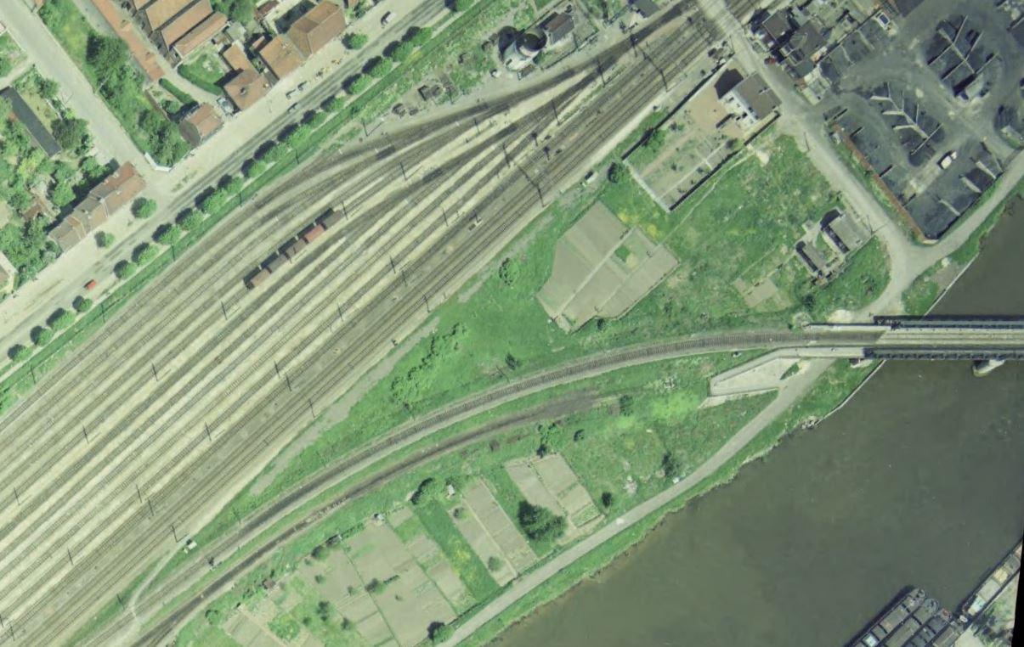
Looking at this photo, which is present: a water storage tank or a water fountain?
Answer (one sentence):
This aerial view contains a water storage tank.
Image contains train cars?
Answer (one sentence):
Yes, a train car can be made out from above.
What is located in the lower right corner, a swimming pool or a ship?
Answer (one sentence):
The one visible in the lower right corner is a ship.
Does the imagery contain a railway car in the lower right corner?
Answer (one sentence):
No, there is no railway car in the lower right corner.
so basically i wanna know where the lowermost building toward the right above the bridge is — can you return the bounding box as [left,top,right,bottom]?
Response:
[799,241,829,274]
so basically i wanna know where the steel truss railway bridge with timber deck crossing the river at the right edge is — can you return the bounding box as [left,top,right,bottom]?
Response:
[778,322,1024,376]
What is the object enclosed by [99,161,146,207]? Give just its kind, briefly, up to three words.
house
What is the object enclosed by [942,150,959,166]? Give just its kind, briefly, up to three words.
vehicle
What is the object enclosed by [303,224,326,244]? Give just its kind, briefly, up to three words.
rail car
